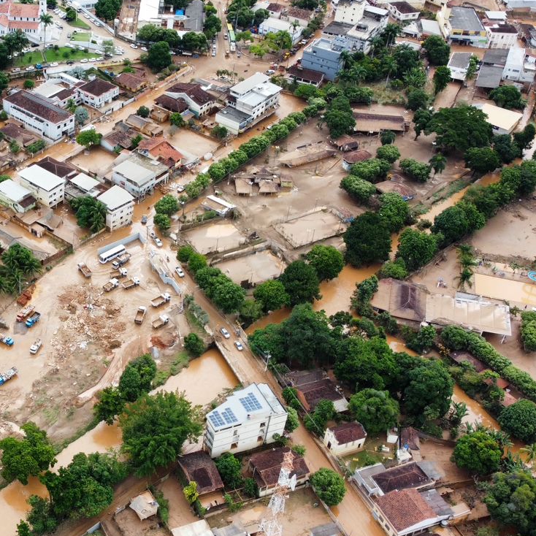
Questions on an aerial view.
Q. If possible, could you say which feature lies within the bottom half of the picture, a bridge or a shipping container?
bridge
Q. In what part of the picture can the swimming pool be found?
right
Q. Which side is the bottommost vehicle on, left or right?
left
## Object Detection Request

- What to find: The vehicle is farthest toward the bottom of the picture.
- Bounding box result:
[0,363,21,385]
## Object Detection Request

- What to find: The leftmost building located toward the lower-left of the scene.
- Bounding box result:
[129,494,161,525]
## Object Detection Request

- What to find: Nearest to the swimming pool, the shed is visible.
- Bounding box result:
[424,295,511,349]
